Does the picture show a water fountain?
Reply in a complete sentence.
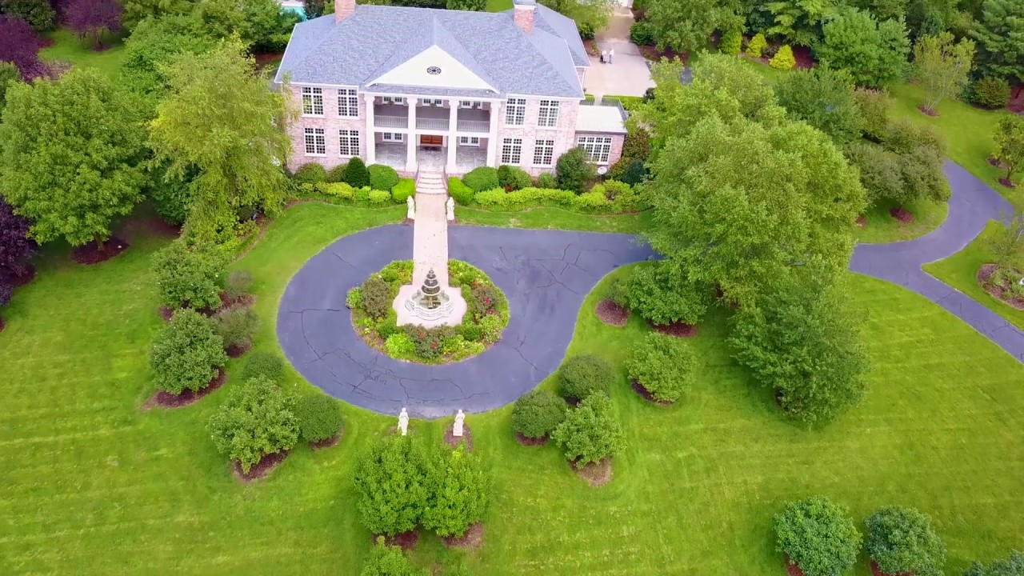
Yes, this view includes a water fountain.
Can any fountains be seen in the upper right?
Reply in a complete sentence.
No, in the upper right there is no fountain.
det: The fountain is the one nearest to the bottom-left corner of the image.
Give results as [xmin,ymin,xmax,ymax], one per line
[404,267,456,323]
